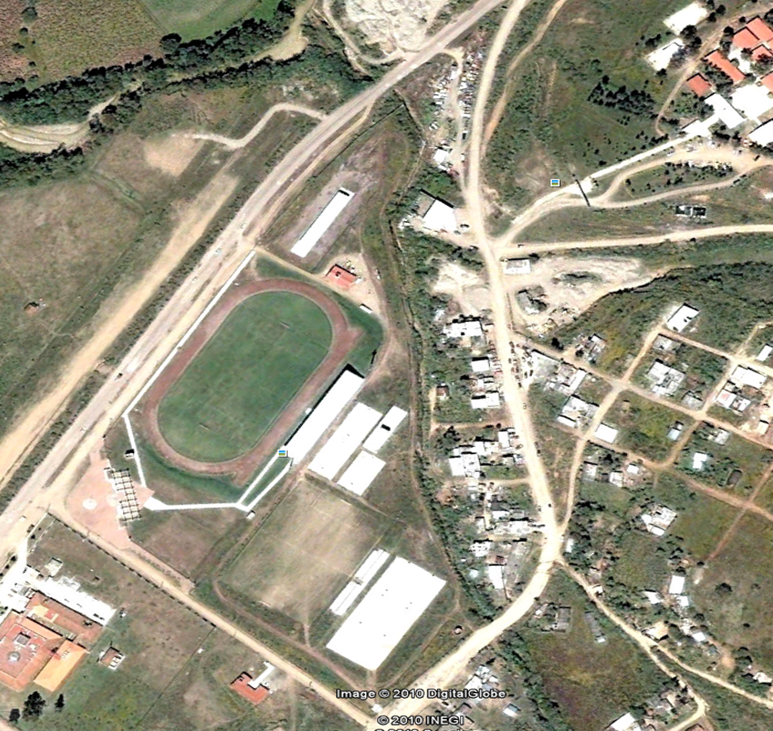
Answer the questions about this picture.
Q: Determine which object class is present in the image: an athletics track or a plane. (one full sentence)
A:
The image shows an athletics track.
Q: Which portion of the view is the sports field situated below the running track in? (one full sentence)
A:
The sports field situated below the running track sits in the bottom section of the image.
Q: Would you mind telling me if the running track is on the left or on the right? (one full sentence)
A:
It is on the left.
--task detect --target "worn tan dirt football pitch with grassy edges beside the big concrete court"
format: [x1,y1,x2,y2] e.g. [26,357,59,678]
[230,480,392,622]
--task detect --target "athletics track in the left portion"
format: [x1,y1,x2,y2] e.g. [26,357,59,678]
[151,271,362,483]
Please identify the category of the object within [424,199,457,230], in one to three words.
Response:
building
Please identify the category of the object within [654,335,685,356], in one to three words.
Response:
house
